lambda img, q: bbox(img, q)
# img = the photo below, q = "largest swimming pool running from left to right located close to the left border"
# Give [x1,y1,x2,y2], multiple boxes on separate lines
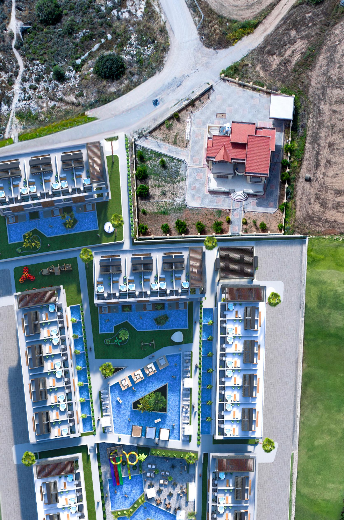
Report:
[5,203,99,244]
